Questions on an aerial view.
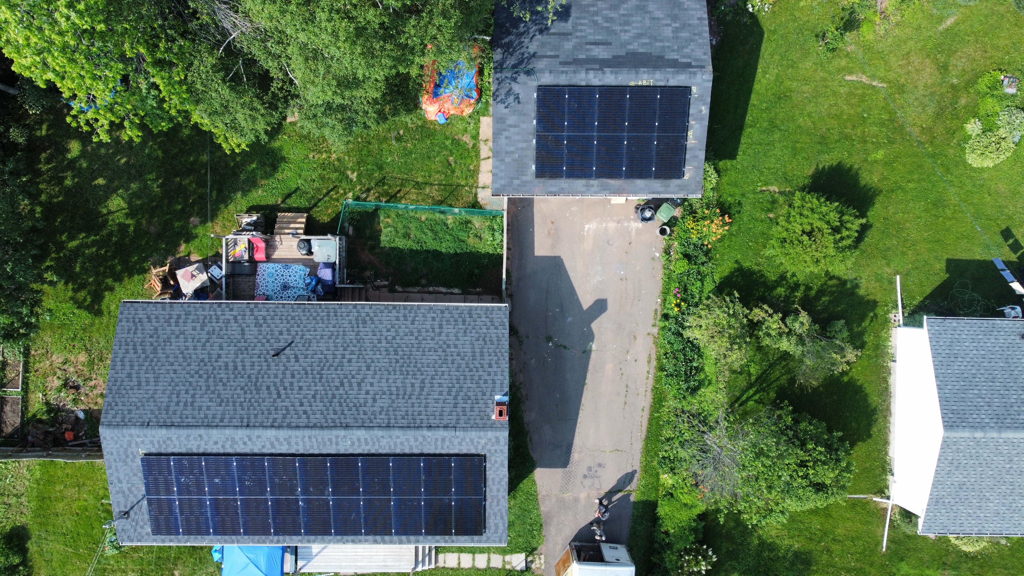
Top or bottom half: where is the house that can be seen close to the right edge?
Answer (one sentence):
The house that can be seen close to the right edge is in the bottom half of the image.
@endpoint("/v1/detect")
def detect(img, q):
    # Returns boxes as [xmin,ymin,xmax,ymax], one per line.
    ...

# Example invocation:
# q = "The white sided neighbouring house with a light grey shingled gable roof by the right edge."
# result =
[888,315,1024,537]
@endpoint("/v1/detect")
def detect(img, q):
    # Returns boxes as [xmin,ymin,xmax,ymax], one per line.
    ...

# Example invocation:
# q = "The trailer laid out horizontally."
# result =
[554,541,636,576]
